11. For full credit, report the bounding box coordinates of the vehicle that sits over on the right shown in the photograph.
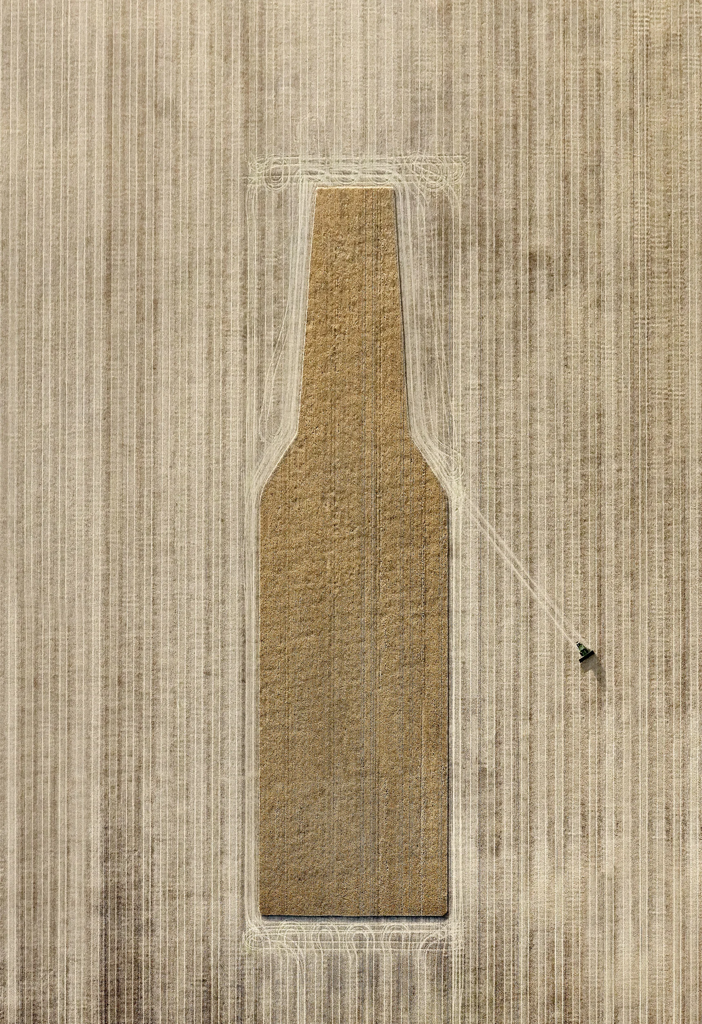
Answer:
[575,642,595,663]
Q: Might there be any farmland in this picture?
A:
Yes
